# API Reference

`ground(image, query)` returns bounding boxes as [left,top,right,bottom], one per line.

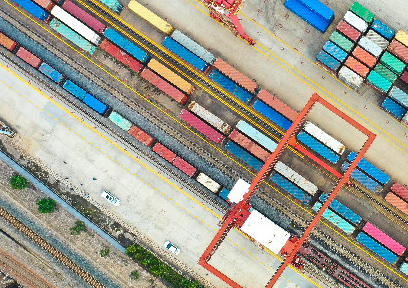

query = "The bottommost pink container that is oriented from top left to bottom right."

[363,222,406,256]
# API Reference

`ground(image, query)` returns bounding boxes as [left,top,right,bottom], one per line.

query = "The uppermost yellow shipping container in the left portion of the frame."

[129,0,175,37]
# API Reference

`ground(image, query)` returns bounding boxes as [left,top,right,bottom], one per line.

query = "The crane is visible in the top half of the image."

[204,0,257,48]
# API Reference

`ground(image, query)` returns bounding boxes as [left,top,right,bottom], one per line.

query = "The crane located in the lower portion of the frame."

[201,95,375,288]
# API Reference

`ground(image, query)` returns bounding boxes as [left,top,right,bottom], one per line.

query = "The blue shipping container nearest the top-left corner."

[11,0,53,26]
